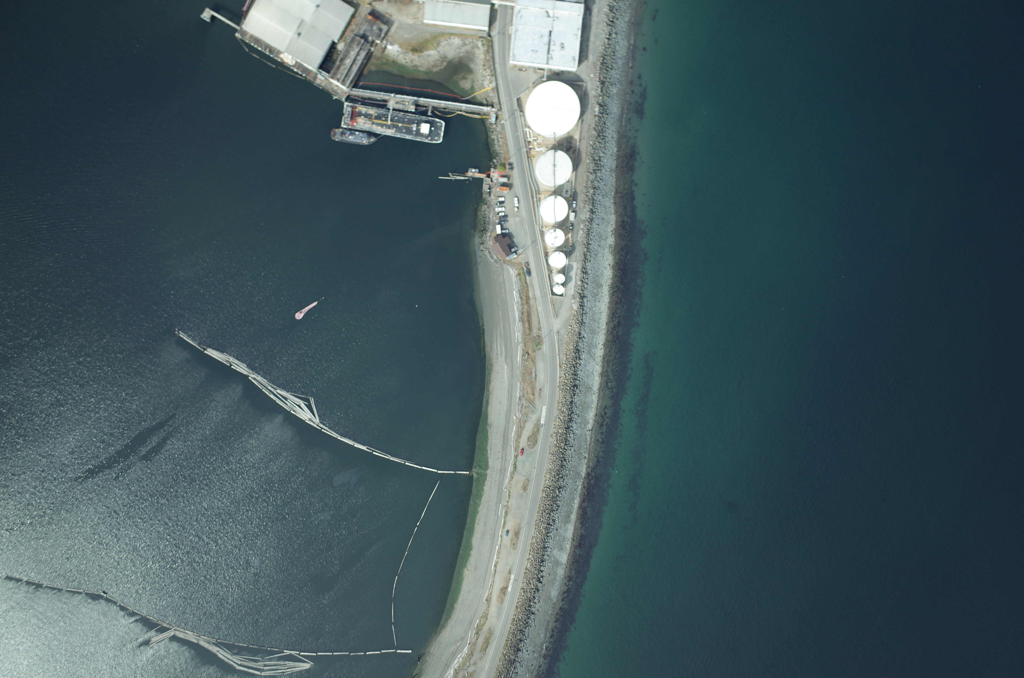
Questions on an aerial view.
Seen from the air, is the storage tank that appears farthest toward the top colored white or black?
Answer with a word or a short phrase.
white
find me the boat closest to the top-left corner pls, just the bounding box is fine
[330,127,377,143]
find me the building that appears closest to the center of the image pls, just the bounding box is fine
[491,234,513,261]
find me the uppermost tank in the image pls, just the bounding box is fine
[521,81,581,139]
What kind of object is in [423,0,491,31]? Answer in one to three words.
building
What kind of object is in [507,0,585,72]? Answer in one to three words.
building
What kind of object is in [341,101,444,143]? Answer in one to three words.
ship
